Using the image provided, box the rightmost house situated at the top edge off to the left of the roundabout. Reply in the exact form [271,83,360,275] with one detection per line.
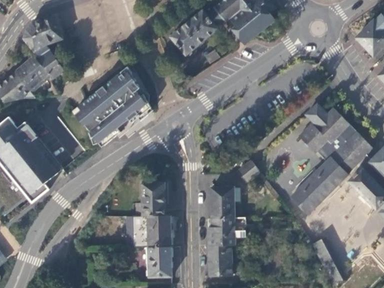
[216,0,274,44]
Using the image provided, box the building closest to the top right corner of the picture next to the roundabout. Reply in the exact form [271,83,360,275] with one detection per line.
[354,13,384,57]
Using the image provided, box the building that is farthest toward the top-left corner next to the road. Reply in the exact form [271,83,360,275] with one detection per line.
[24,18,64,62]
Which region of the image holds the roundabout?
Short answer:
top right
